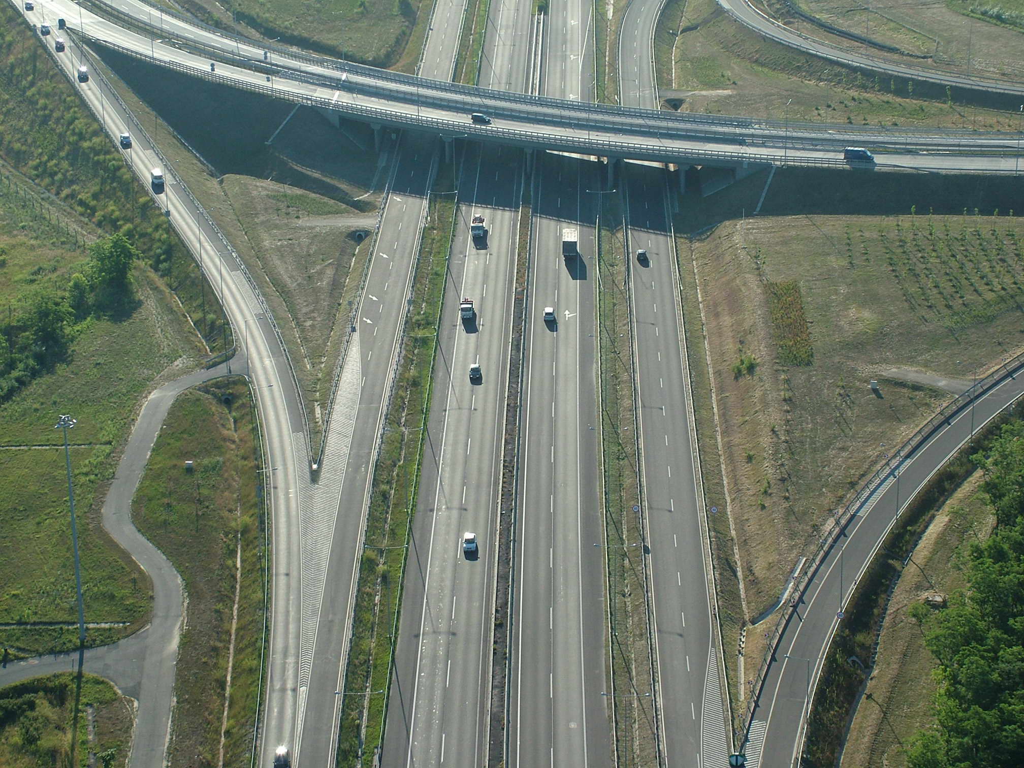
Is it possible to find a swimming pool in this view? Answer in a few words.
No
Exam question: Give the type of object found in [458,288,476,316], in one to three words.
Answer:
vehicle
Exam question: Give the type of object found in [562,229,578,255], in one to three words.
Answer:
vehicle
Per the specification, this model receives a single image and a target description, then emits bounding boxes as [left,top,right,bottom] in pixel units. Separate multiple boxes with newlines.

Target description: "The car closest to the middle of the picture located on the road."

[469,361,481,376]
